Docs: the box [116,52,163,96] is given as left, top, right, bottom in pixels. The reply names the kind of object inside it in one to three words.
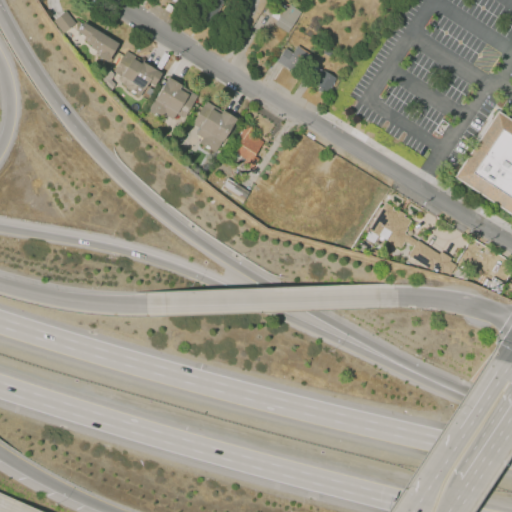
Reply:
house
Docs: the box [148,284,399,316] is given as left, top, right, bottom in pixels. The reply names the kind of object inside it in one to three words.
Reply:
bridge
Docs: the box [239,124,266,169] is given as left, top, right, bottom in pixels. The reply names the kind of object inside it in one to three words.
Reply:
house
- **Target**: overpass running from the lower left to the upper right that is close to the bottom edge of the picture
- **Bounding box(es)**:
[391,360,512,512]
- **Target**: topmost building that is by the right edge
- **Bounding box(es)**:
[454,110,512,215]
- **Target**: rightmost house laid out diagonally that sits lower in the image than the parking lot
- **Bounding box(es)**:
[370,201,460,274]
